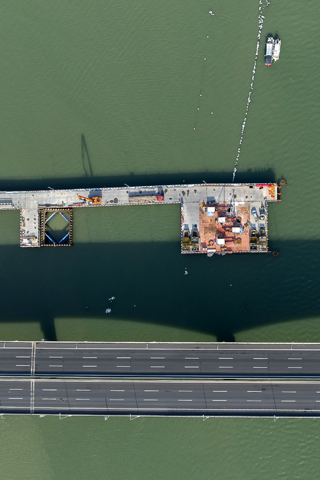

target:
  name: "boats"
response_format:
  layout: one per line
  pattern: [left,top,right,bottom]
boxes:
[265,40,272,66]
[272,40,279,62]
